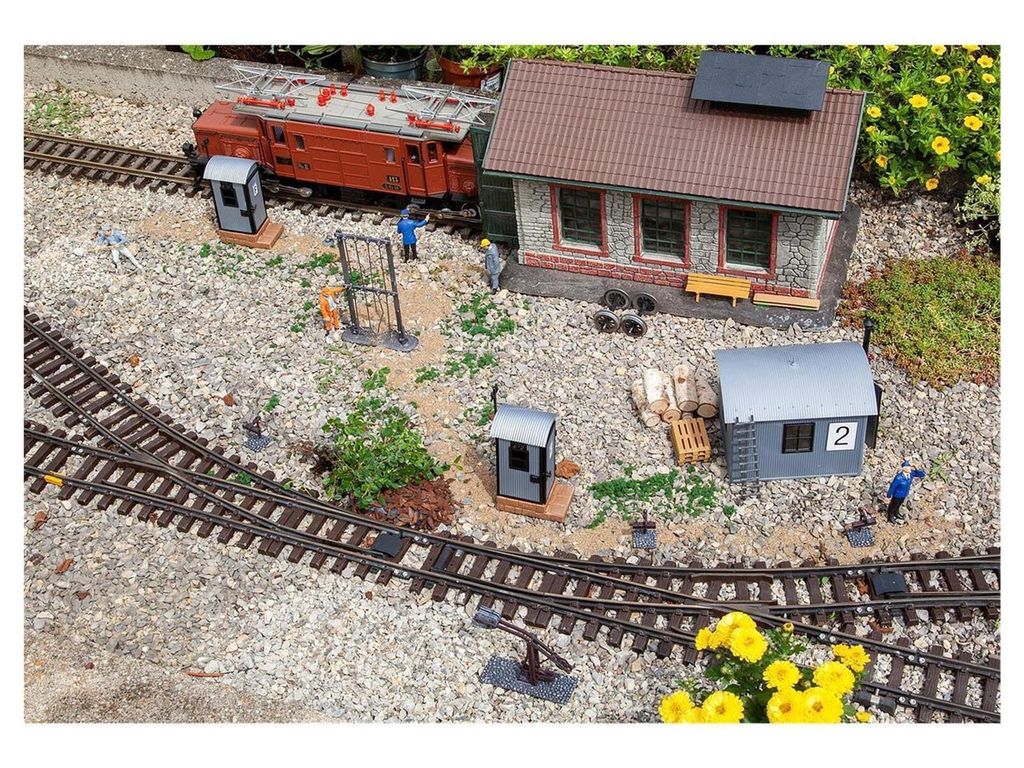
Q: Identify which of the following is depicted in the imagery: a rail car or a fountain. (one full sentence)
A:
There is a rail car in the scene.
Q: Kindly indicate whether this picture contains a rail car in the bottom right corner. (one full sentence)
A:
No, no rail car is visible in the bottom right corner.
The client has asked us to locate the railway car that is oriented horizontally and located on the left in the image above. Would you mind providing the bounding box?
[191,65,499,223]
